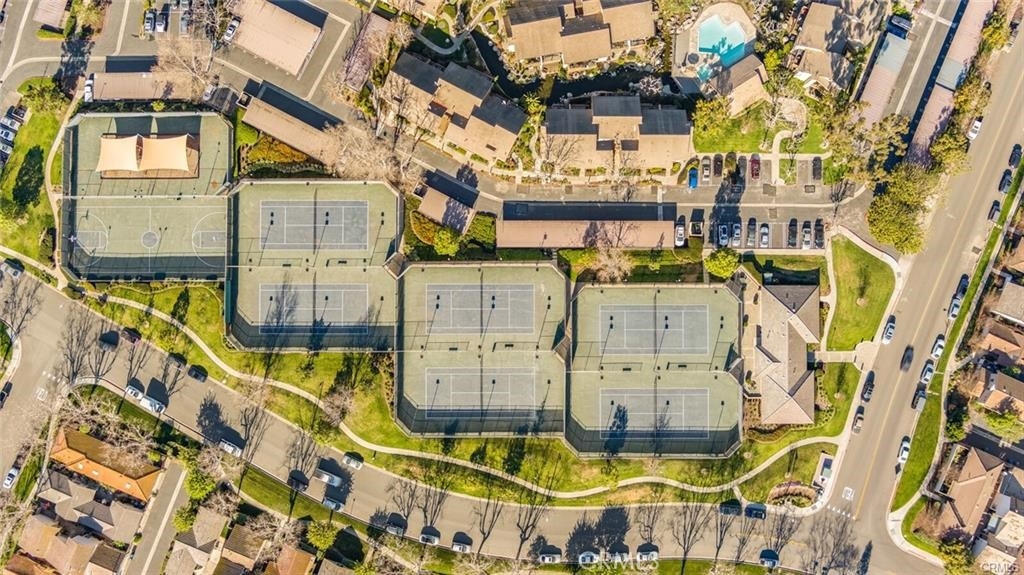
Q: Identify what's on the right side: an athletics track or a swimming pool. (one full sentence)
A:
There is a swimming pool on the right side.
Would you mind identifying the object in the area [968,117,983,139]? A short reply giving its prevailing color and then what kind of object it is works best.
white car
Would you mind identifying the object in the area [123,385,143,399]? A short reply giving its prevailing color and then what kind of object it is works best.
white car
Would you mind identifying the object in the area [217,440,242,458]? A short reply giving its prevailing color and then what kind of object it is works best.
white vehicle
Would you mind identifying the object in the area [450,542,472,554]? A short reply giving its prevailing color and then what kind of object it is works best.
white vehicle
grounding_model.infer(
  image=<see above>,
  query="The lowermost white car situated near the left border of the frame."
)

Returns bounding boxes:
[2,468,17,489]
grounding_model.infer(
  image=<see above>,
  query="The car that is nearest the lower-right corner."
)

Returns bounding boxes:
[898,441,912,463]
